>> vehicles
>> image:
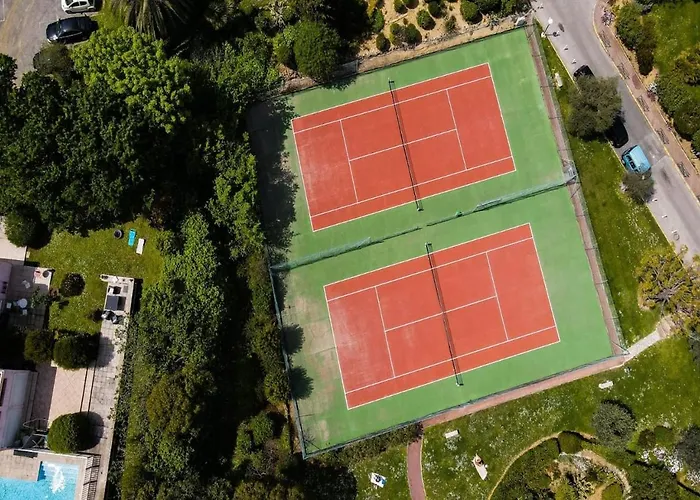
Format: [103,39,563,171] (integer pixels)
[569,62,600,92]
[617,146,651,179]
[49,17,95,42]
[60,0,96,16]
[596,114,630,149]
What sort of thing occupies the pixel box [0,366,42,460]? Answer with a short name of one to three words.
house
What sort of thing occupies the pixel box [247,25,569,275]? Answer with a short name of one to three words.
tennis court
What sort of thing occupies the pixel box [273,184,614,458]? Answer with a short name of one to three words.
tennis court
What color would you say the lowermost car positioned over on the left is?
black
